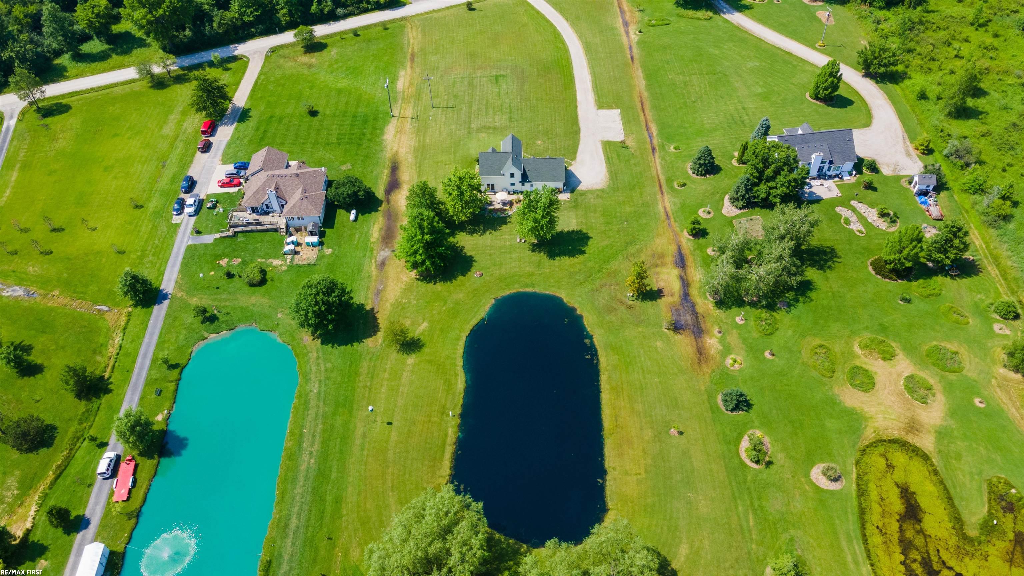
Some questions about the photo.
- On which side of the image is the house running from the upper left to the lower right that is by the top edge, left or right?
right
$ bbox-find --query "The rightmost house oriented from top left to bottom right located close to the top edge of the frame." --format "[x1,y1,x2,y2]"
[709,0,923,175]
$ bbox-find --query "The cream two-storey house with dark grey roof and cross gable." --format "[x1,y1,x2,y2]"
[479,133,566,194]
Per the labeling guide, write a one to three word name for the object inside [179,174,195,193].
car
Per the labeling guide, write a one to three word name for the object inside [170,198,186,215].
car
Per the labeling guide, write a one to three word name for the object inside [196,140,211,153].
vehicle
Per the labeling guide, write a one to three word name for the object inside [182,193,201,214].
vehicle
